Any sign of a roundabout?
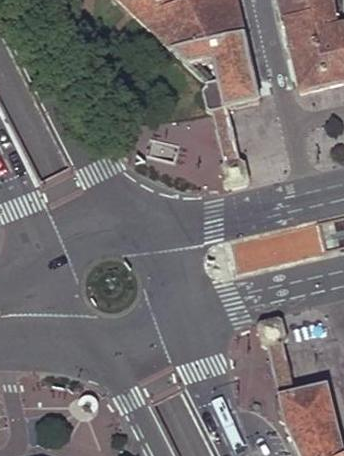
Yes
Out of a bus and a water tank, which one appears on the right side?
bus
